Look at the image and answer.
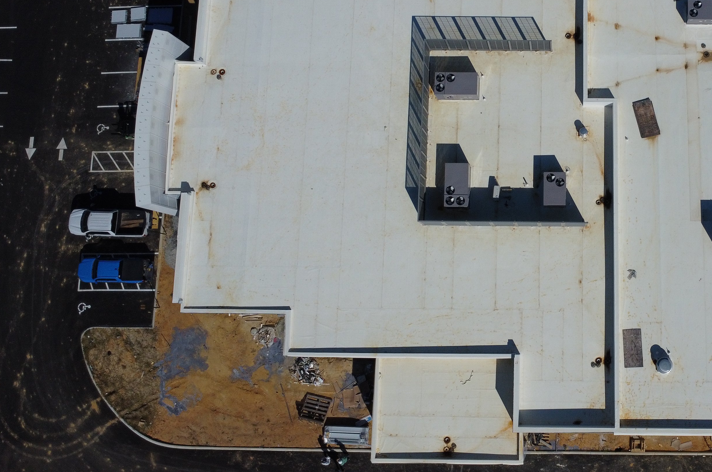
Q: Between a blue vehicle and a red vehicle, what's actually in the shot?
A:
blue vehicle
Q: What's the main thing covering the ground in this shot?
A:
buildings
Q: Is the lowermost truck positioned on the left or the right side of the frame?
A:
left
